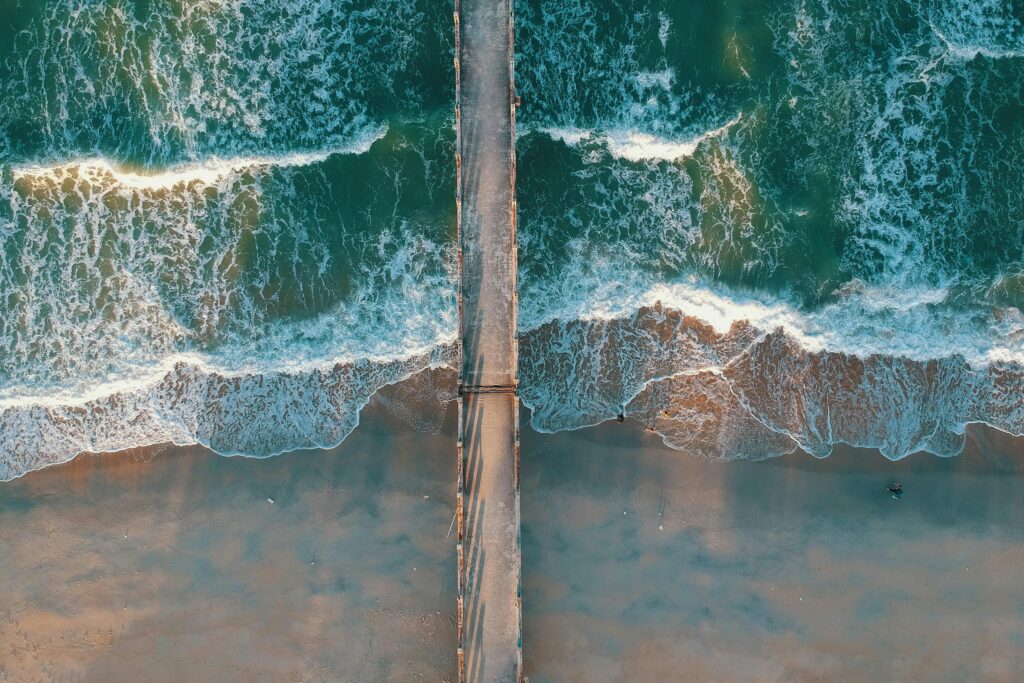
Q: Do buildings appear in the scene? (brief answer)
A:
No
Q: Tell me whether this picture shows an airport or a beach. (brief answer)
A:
beach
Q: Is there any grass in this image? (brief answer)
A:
No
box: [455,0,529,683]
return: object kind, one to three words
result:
pier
